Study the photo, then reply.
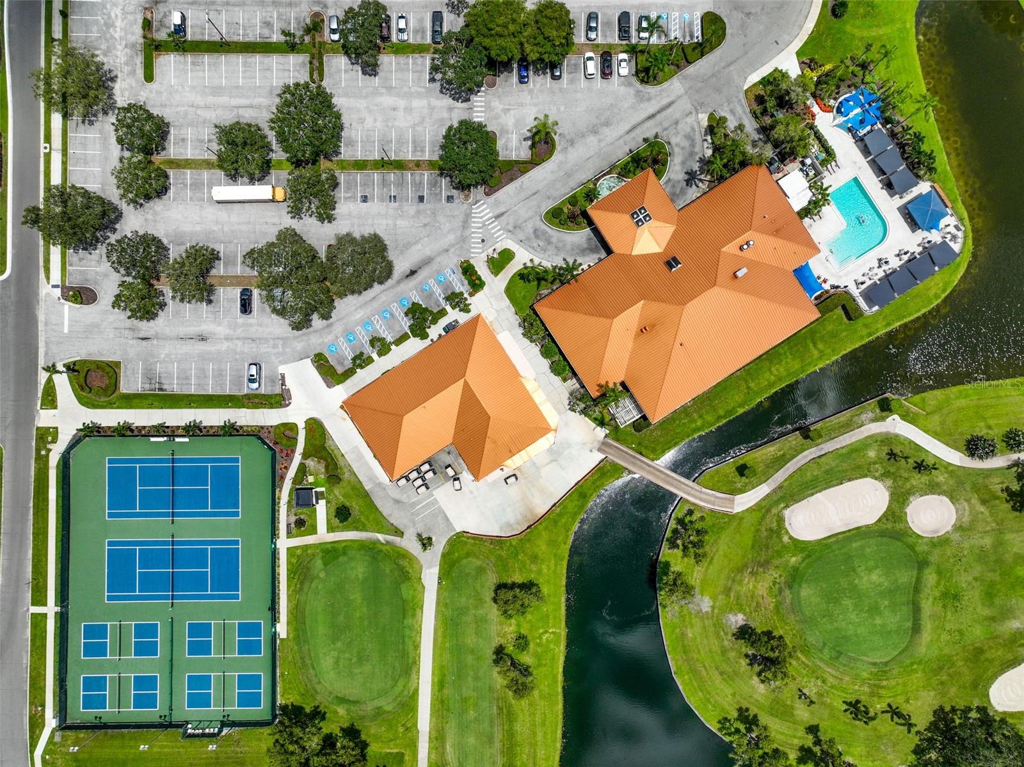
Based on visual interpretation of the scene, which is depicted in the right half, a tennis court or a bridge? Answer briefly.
bridge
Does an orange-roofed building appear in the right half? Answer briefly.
Yes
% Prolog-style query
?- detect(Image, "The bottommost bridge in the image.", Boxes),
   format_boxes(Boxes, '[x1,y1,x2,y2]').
[598,437,735,514]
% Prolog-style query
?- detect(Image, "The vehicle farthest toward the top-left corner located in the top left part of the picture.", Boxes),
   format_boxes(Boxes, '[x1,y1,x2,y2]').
[173,13,187,37]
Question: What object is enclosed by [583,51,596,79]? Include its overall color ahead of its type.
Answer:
white vehicle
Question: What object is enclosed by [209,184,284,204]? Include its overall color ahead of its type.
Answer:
white bus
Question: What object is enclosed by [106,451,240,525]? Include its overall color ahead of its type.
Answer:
blue tennis court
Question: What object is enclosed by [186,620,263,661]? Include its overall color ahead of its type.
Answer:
blue sports court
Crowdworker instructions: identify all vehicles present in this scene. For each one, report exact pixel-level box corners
[444,462,457,476]
[431,10,444,45]
[586,12,599,41]
[412,474,427,487]
[583,51,596,79]
[396,15,409,42]
[420,460,433,473]
[417,482,431,495]
[453,477,462,490]
[384,14,392,43]
[424,467,438,480]
[173,13,187,37]
[600,51,613,79]
[239,288,253,315]
[209,184,284,204]
[550,56,563,84]
[505,473,519,485]
[407,467,421,479]
[327,14,341,43]
[396,475,411,487]
[618,11,631,41]
[517,58,530,86]
[247,363,261,389]
[638,14,649,42]
[616,51,629,79]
